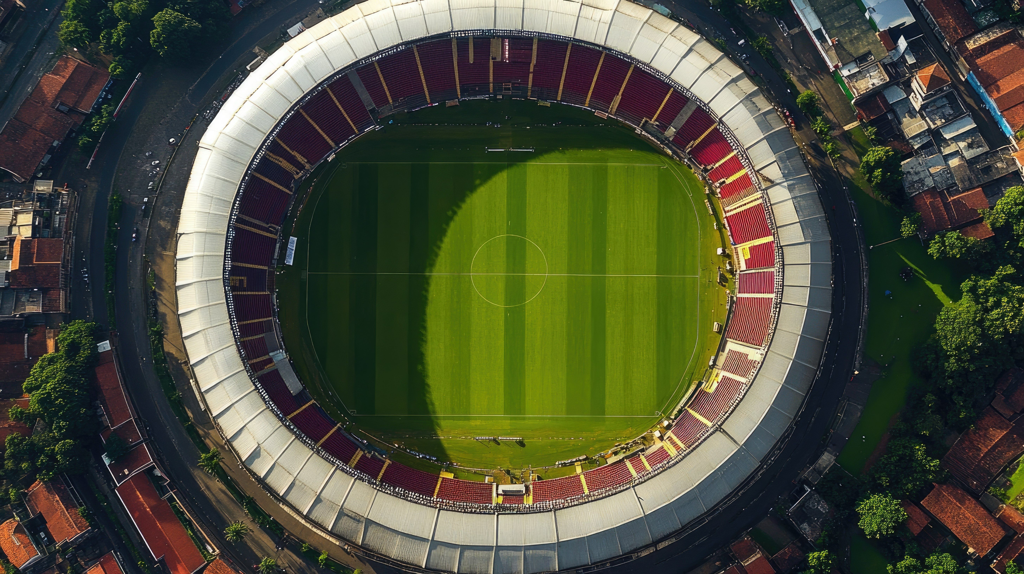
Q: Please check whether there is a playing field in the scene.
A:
Yes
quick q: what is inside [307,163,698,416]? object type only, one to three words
sports field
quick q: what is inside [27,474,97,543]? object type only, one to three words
house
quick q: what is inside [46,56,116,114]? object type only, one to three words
house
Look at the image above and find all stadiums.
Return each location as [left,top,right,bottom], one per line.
[173,0,835,574]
